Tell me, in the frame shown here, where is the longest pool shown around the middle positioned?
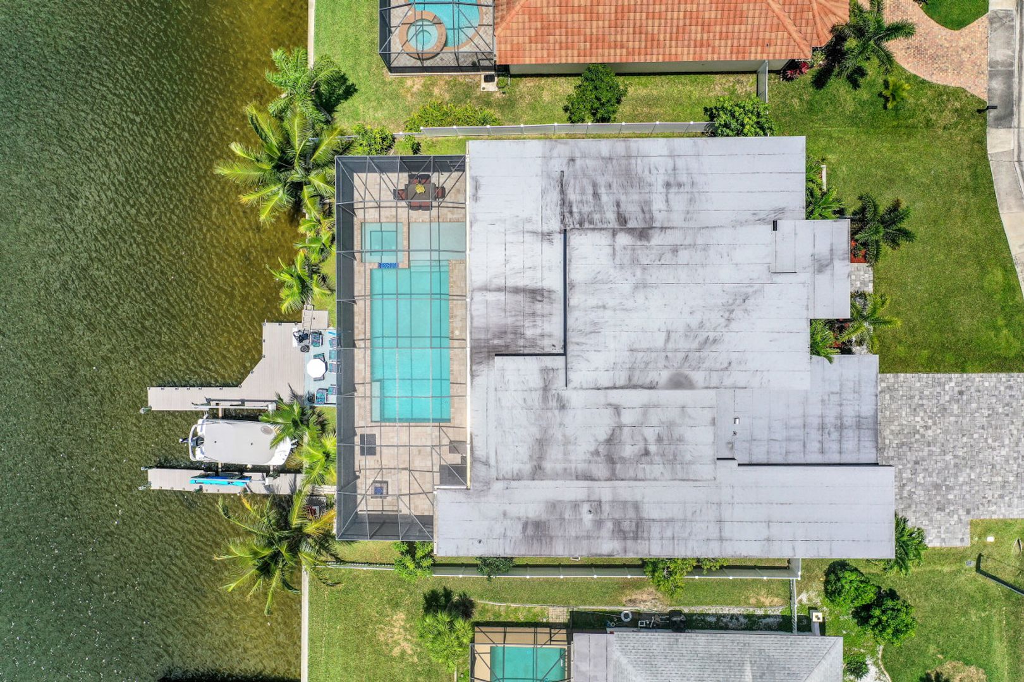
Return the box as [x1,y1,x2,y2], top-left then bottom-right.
[354,216,466,430]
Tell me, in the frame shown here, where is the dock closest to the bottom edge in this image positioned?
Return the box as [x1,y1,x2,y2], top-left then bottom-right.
[148,468,305,495]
